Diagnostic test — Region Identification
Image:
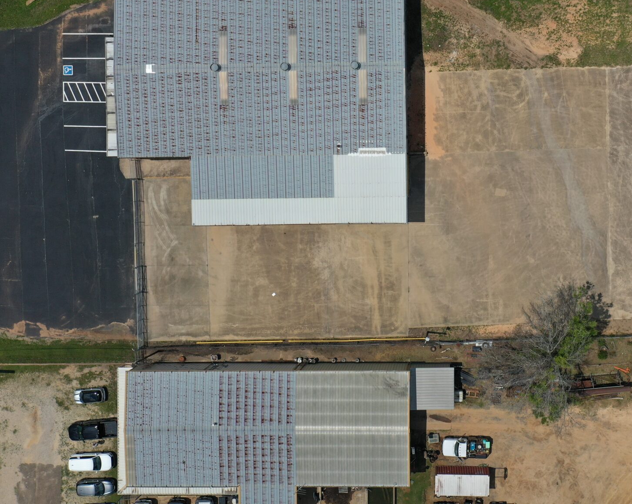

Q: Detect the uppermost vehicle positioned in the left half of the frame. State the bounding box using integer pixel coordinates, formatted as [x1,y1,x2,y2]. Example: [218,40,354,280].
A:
[72,386,106,407]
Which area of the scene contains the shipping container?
bottom right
